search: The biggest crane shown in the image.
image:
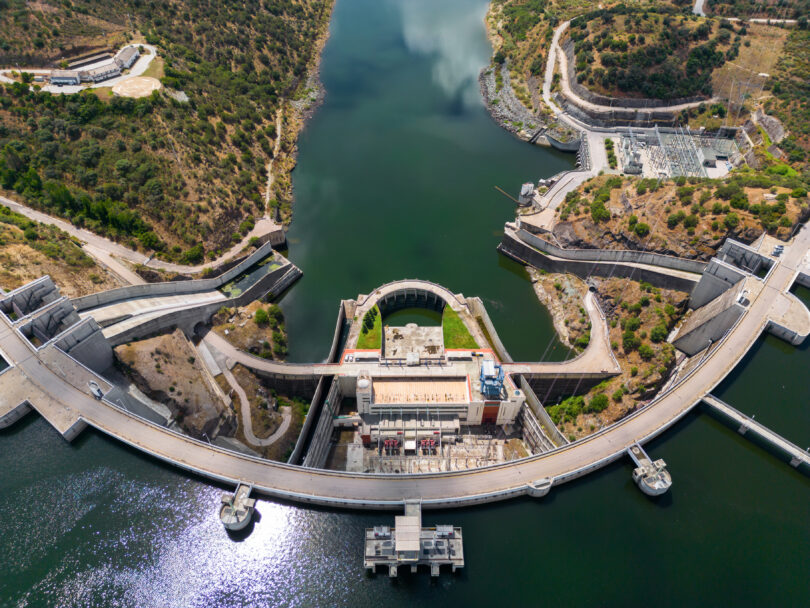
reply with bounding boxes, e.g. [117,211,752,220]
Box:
[480,355,508,397]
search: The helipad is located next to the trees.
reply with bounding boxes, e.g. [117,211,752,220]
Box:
[110,75,162,100]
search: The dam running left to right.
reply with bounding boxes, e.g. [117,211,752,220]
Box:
[0,218,810,506]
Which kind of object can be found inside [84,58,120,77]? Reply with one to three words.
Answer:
building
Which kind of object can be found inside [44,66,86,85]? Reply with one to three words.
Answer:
building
